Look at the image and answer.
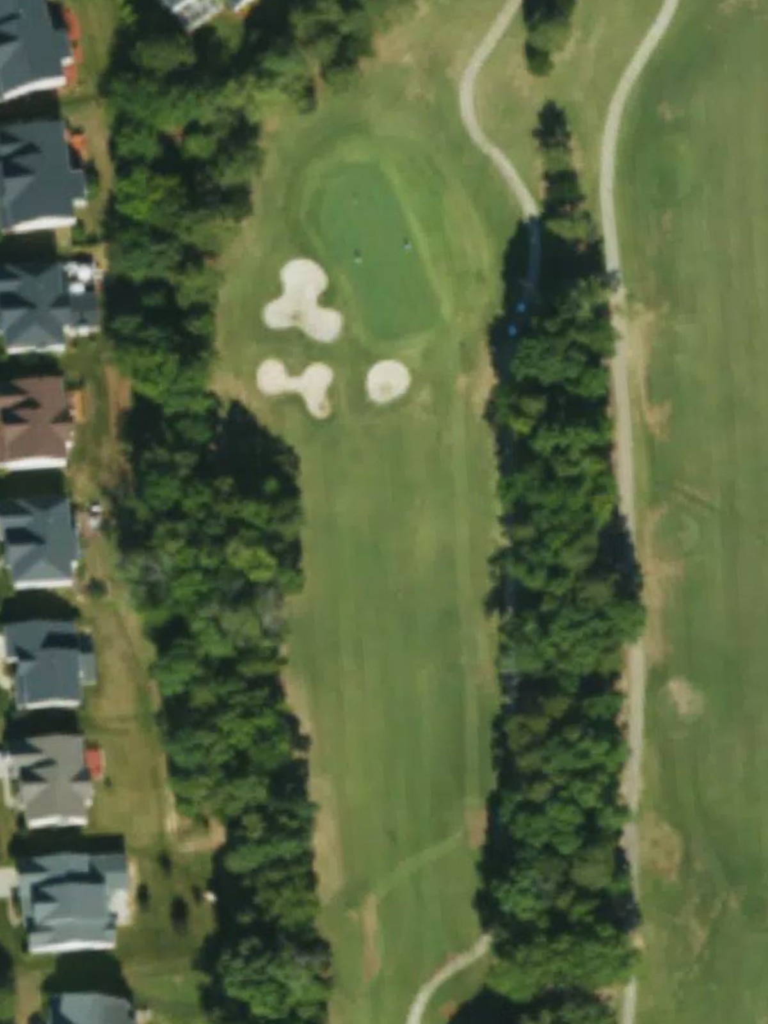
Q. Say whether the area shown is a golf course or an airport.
golf course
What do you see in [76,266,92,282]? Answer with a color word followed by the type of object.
white umbrella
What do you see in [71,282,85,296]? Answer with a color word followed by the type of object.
white umbrella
